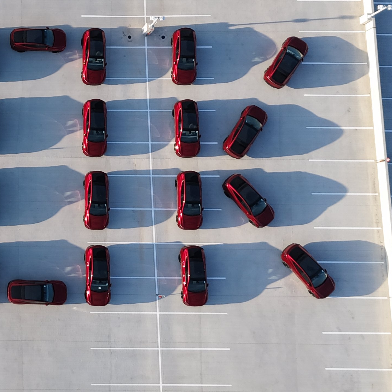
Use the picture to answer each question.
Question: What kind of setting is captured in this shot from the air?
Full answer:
What you see here is a parking lot.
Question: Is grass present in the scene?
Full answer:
No, grass can't be seen anywhere here.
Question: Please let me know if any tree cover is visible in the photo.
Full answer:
No, the picture contains no tree cover.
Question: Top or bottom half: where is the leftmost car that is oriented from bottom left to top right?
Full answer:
The top half of the photo is where the leftmost car that is oriented from bottom left to top right is.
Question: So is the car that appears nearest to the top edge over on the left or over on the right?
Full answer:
The car that appears nearest to the top edge sits on the left side.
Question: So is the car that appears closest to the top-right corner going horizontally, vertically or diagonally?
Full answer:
Seen from above, the car that appears closest to the top-right corner lies diagonally.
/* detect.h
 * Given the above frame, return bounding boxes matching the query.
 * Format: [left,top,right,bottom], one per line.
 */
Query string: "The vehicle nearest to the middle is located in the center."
[174,171,206,230]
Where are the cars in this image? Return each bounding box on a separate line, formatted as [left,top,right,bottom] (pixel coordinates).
[81,28,109,85]
[281,243,336,299]
[170,28,199,85]
[222,173,276,228]
[82,99,110,157]
[263,36,310,89]
[172,99,202,157]
[8,279,67,307]
[84,246,113,306]
[179,246,210,306]
[10,26,67,53]
[174,171,206,230]
[222,106,269,159]
[83,171,112,230]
